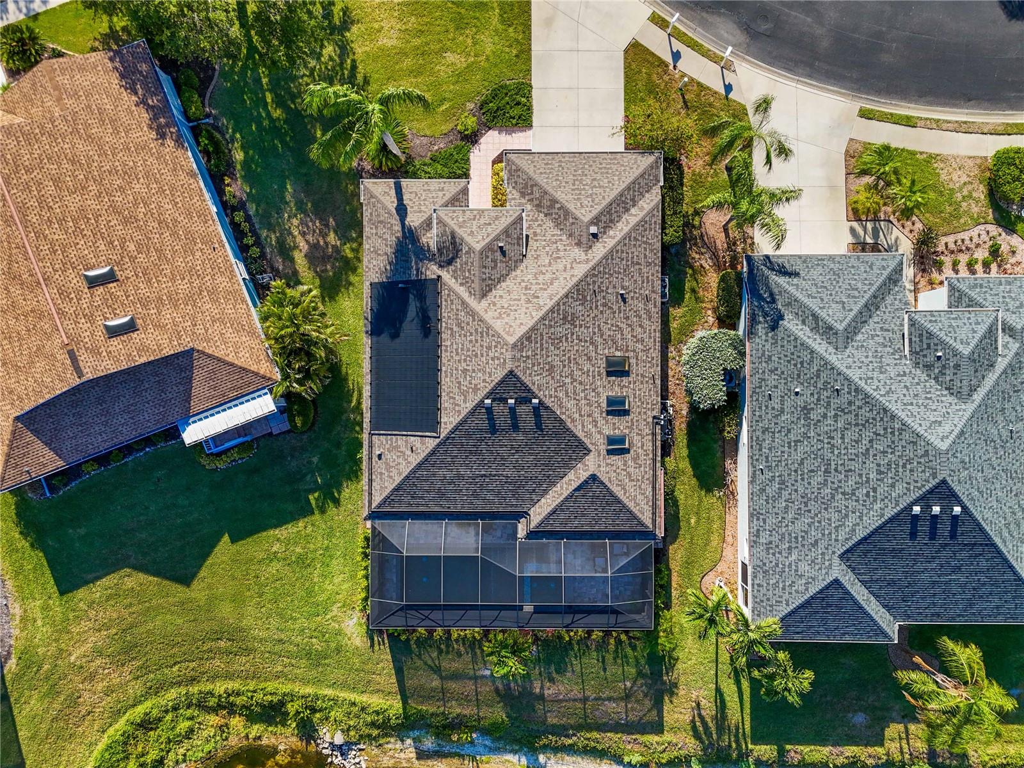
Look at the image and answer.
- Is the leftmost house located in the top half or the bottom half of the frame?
top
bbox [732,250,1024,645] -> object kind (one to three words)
house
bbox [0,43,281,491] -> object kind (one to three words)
house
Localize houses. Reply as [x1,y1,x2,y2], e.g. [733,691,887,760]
[360,150,665,538]
[732,250,1024,645]
[0,43,281,491]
